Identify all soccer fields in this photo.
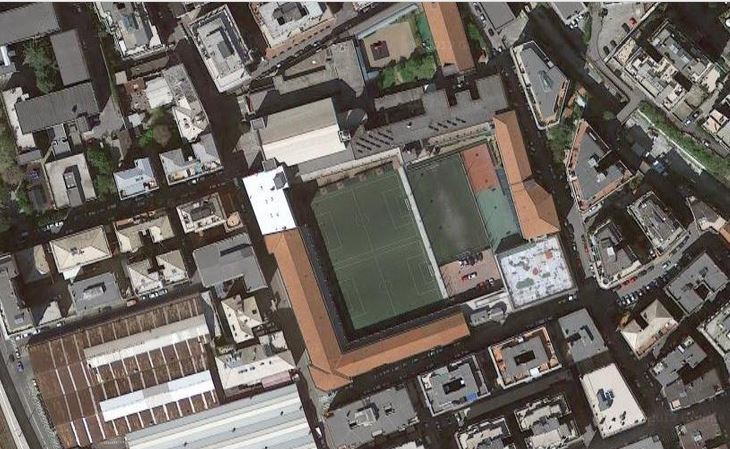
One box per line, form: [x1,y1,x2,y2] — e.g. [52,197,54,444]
[307,169,446,332]
[406,153,487,267]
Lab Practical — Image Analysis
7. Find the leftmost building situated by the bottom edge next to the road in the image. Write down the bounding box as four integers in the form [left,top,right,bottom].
[29,291,219,449]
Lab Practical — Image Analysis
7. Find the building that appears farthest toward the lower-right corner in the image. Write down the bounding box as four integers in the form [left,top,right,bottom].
[674,414,723,449]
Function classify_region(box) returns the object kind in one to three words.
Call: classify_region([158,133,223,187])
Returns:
house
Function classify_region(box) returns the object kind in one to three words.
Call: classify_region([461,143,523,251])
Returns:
sports court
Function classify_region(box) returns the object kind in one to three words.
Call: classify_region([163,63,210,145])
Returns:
building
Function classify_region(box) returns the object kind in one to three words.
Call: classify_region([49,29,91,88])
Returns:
building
